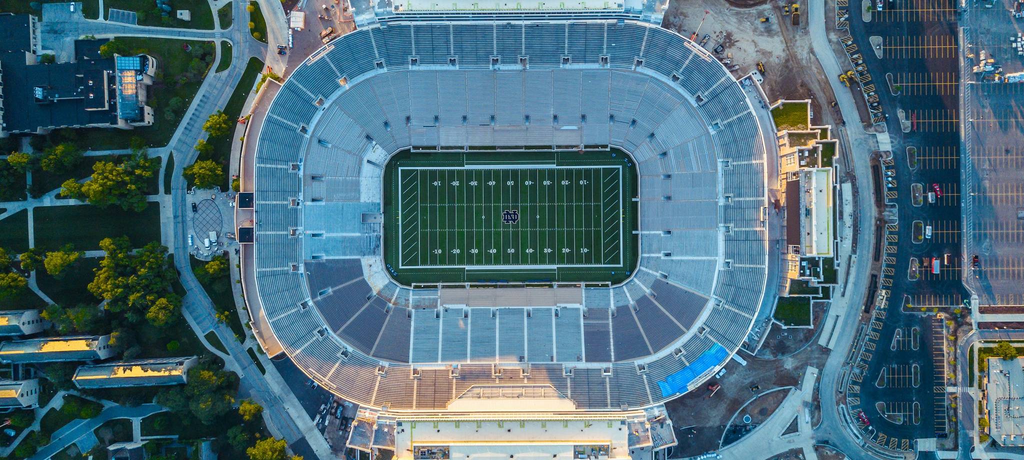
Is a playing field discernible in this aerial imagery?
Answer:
Yes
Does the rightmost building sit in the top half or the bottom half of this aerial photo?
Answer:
bottom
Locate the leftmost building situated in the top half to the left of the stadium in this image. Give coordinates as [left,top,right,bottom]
[0,14,166,135]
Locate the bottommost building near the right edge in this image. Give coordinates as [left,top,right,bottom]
[978,356,1024,446]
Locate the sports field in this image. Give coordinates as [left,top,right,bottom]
[382,145,639,289]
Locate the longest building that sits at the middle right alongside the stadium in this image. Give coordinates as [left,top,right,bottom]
[770,100,840,328]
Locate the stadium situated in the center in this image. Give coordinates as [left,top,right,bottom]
[232,20,781,412]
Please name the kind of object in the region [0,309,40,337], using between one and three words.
building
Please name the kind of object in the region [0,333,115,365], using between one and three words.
building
